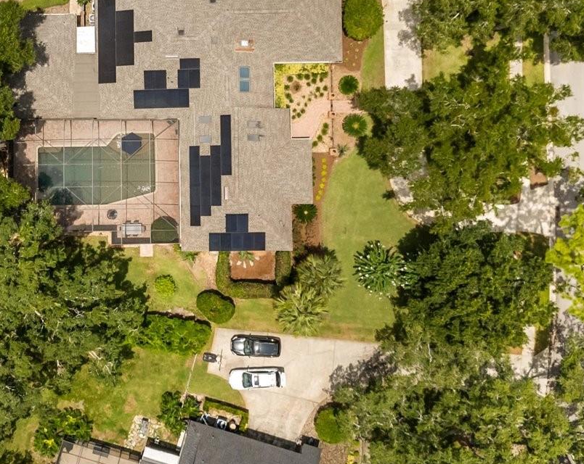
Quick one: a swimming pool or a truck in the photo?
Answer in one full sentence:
The one in the frame is a swimming pool.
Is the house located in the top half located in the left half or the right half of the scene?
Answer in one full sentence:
The house located in the top half sits on the left side.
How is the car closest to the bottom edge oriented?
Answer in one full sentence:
The car closest to the bottom edge is oriented from left to right.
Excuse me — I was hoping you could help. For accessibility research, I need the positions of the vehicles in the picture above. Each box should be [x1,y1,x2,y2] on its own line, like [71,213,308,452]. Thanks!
[231,335,281,358]
[231,368,283,391]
